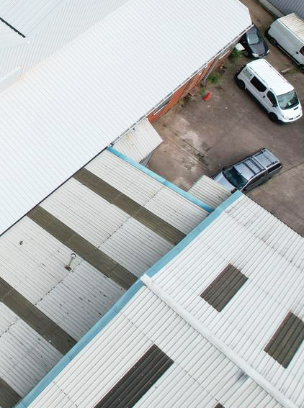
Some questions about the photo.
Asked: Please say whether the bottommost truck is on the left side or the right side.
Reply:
right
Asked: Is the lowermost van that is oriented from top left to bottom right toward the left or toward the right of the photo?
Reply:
right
